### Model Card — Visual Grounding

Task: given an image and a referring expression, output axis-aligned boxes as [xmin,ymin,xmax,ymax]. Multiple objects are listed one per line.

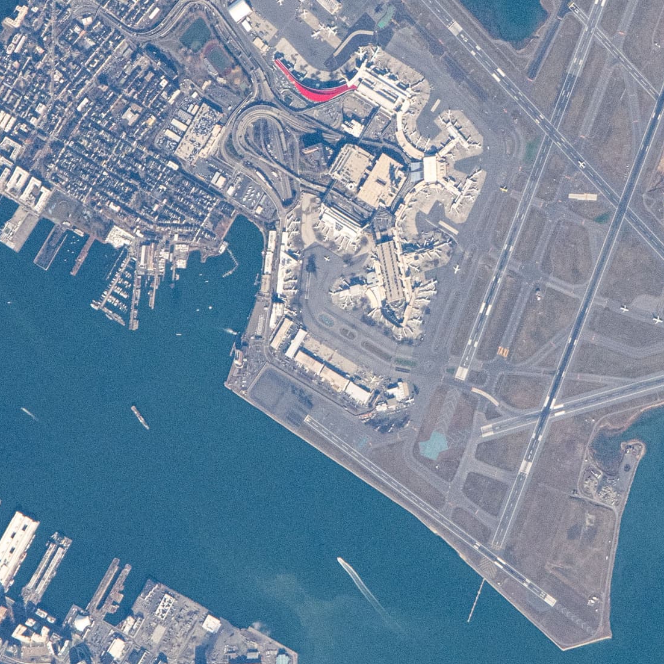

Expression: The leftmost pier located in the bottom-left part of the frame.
[21,533,71,602]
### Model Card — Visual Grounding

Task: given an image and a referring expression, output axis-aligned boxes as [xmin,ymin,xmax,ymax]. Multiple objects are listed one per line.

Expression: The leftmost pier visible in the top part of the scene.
[0,204,40,253]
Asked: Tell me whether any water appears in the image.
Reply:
Yes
